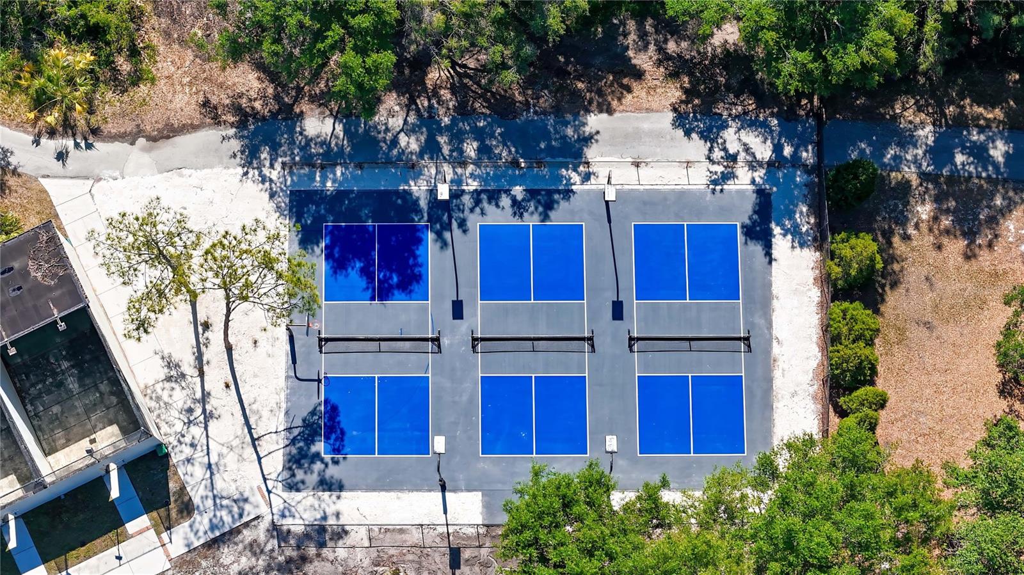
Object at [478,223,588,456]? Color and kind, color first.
blue sports court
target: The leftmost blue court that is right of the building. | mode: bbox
[321,223,430,457]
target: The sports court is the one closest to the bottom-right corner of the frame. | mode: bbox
[633,222,746,455]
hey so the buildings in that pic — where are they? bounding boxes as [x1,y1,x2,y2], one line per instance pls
[0,218,165,520]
